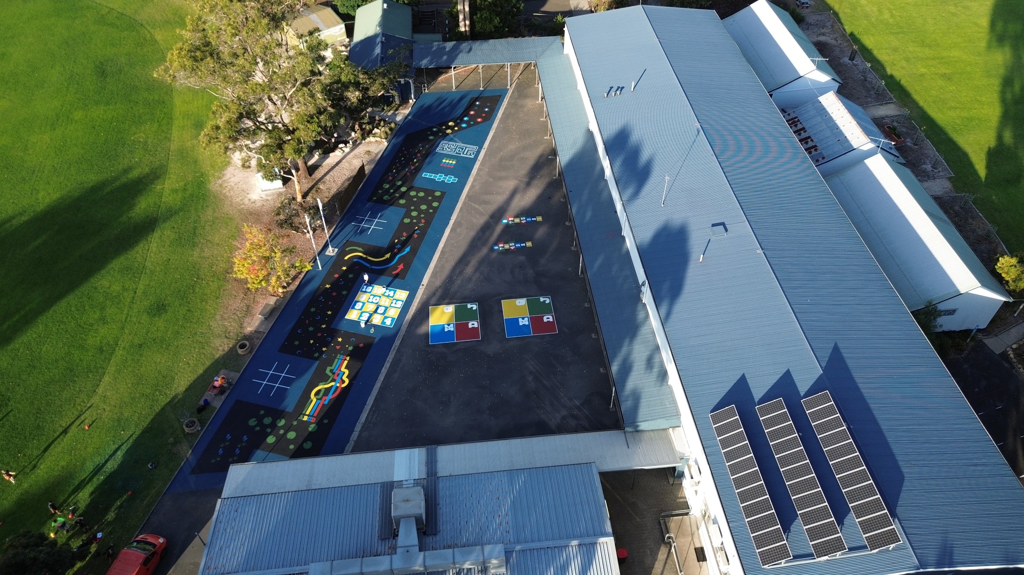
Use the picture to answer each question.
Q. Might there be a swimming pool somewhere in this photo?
No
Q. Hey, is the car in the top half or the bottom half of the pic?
bottom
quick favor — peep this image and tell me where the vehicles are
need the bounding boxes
[106,534,160,575]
